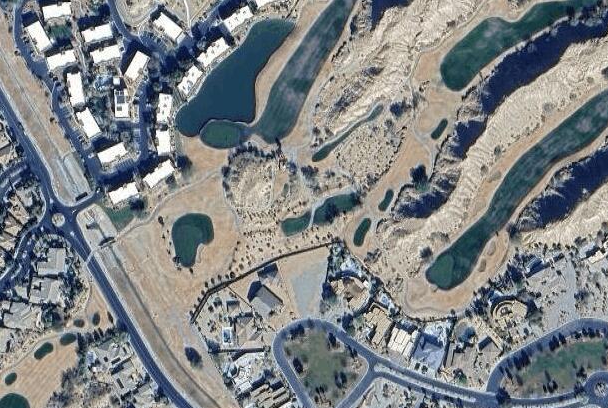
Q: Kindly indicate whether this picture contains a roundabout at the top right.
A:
No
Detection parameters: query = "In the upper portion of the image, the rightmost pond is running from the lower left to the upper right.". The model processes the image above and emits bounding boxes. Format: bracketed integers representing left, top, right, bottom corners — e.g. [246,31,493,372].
[176,20,290,137]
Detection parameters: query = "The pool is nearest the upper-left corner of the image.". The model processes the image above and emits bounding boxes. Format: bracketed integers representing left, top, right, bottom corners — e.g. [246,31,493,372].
[97,77,113,91]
